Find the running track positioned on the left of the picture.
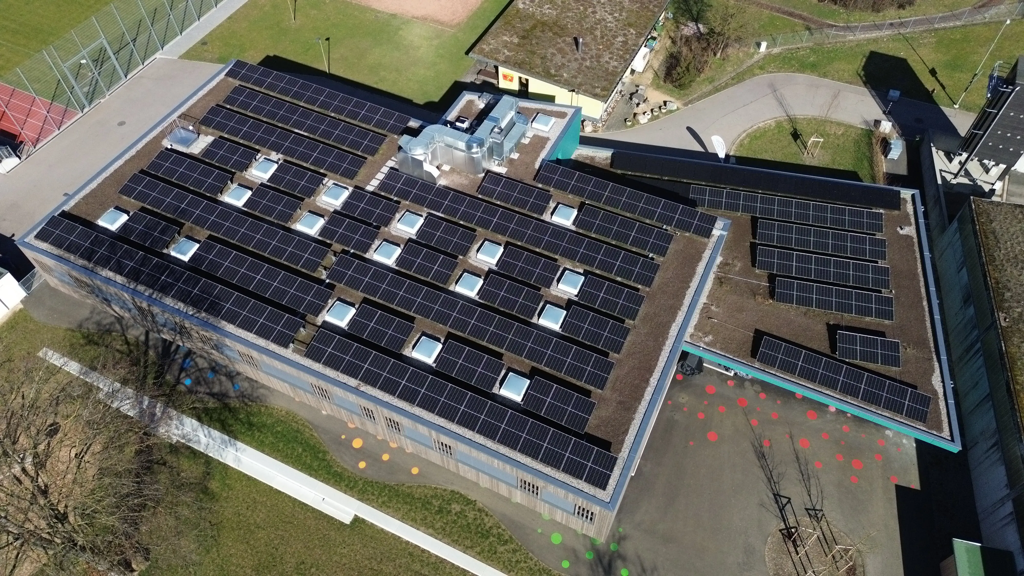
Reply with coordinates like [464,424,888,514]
[0,83,83,178]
